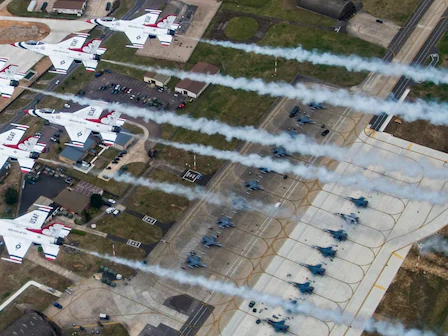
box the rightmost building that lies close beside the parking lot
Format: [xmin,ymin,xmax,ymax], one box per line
[176,62,219,99]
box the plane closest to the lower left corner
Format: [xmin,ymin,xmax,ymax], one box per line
[0,204,72,264]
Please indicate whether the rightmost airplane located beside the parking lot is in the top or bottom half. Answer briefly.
top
